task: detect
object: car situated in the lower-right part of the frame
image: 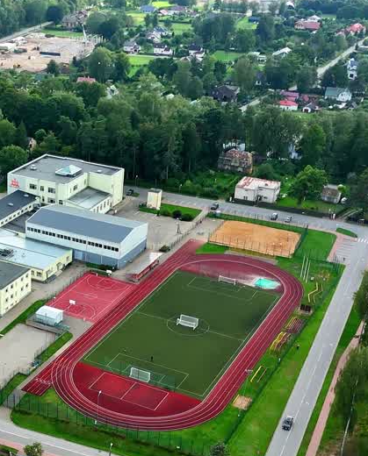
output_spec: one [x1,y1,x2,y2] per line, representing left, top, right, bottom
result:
[281,415,294,429]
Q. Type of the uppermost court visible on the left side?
basketball court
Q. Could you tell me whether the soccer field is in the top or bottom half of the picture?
bottom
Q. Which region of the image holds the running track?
bottom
